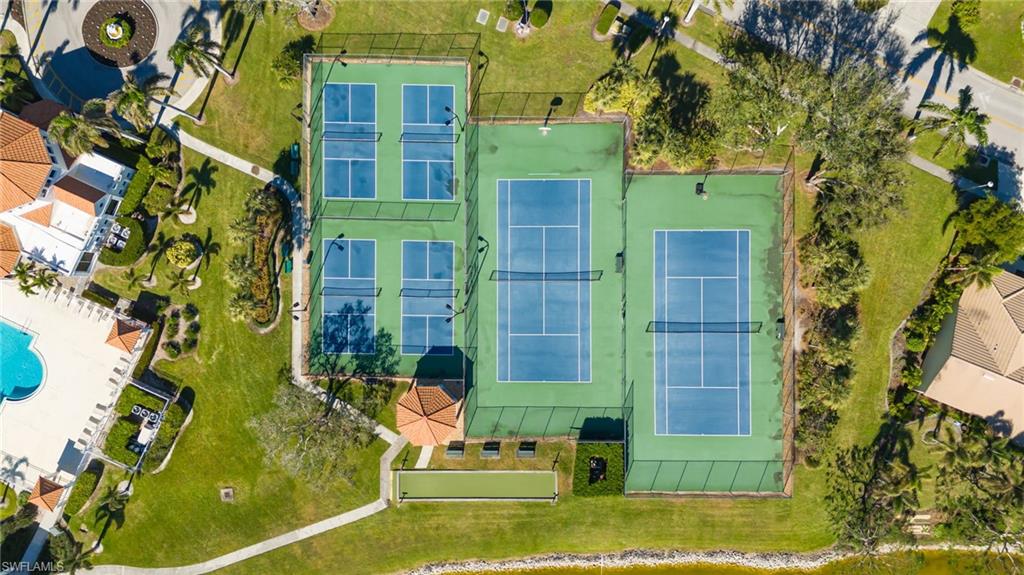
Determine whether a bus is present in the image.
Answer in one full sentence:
No, the frame has no bus in it.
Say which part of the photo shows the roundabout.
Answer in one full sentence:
You can find the roundabout in the top left area of the picture.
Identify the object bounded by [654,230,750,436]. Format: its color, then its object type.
blue tennis court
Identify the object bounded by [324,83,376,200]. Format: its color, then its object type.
blue sports court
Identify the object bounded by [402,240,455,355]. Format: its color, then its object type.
blue sports court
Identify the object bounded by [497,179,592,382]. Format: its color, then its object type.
blue tennis court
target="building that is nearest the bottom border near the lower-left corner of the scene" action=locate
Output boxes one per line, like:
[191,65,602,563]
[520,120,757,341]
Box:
[28,471,79,512]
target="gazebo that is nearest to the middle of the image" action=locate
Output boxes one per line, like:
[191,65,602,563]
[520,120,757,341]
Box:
[397,386,456,445]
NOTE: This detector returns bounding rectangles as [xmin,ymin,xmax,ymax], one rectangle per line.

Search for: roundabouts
[82,0,159,67]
